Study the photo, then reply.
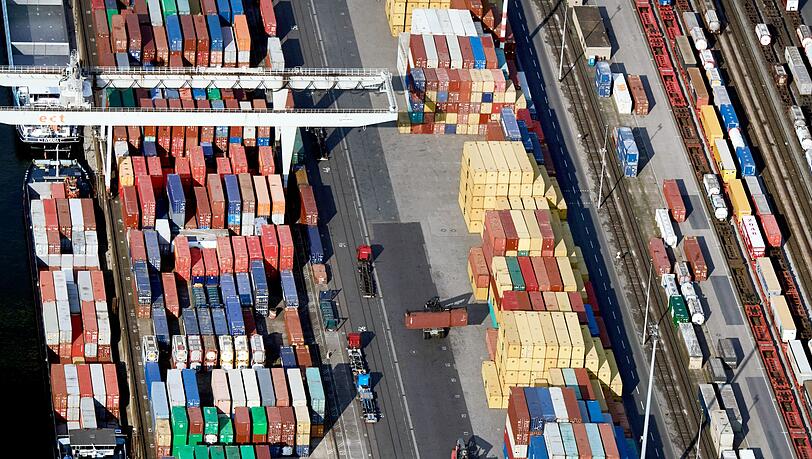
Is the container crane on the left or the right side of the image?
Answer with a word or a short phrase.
left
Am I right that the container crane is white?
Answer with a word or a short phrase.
Yes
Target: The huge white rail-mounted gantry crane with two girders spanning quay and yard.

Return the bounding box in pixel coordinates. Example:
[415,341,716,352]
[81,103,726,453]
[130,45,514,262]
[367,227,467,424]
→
[0,48,399,193]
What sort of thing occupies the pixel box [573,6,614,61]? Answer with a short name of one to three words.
building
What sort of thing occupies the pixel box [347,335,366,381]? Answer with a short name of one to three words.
vehicle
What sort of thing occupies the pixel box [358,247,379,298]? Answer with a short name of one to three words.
vehicle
